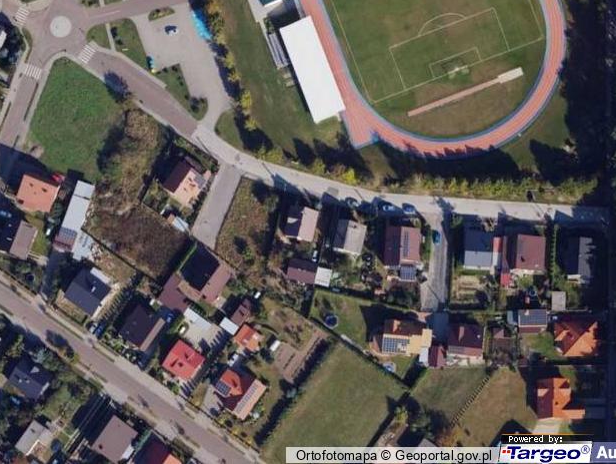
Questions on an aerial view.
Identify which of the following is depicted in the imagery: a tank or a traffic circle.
traffic circle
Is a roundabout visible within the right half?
No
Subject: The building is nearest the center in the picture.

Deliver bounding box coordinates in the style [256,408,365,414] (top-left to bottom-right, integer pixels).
[278,203,319,243]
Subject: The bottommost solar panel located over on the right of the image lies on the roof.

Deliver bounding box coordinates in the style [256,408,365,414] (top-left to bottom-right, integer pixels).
[380,335,405,353]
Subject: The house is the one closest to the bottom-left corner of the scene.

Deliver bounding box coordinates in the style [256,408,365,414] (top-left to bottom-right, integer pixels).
[19,419,57,462]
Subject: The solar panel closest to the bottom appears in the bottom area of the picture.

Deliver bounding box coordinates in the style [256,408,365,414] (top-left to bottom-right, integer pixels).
[239,386,260,412]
